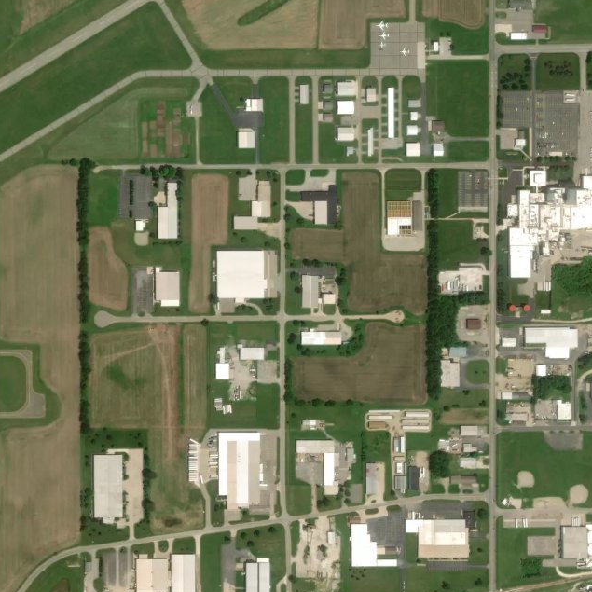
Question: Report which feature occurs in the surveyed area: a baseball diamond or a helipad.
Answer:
baseball diamond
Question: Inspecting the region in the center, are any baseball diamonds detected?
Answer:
No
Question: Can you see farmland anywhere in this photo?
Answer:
Yes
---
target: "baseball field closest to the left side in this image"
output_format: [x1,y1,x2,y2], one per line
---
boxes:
[517,460,545,488]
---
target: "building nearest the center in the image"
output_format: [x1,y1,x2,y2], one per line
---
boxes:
[302,275,336,308]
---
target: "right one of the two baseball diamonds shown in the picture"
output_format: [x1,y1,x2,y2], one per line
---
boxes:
[563,464,592,502]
